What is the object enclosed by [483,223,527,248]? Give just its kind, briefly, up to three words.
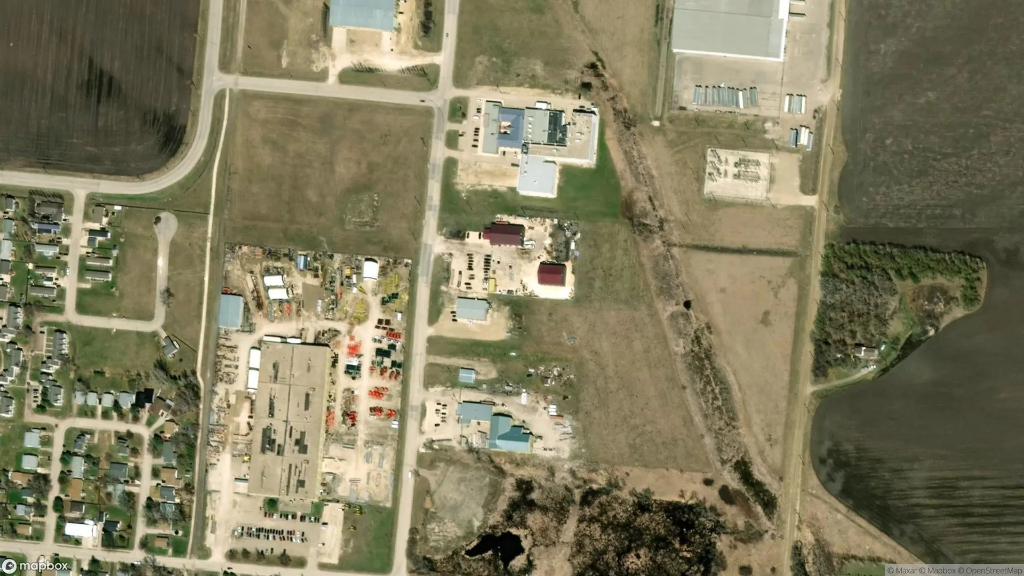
building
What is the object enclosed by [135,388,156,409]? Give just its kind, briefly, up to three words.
shed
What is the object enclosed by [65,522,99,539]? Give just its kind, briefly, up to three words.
house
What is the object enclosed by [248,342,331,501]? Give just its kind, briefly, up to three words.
building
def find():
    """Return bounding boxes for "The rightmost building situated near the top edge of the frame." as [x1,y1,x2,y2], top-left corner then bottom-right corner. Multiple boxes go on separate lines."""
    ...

[672,0,793,61]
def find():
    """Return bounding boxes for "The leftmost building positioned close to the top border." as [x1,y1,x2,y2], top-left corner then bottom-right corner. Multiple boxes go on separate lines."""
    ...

[330,0,398,33]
